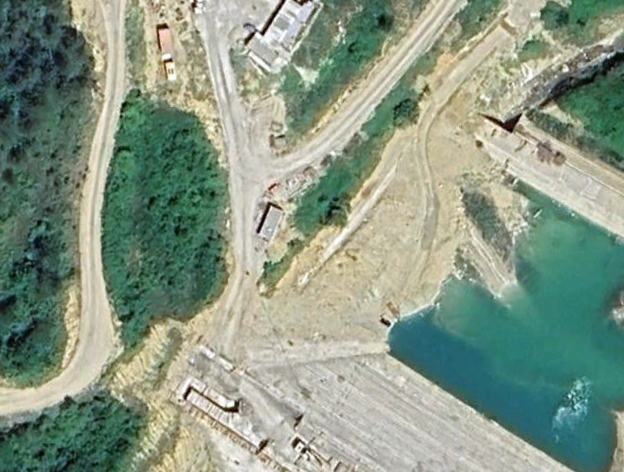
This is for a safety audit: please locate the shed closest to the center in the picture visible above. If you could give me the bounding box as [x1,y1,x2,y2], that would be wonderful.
[259,205,280,238]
